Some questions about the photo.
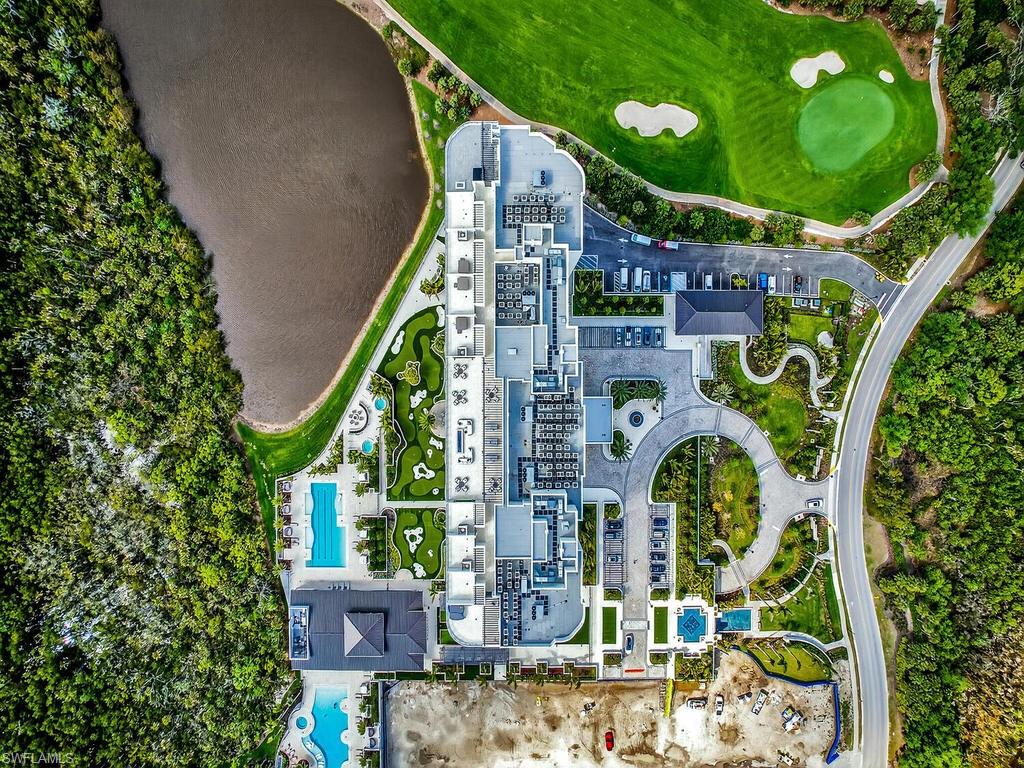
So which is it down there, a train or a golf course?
golf course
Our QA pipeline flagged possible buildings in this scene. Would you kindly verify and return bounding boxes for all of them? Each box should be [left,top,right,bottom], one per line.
[443,117,613,647]
[675,290,764,336]
[290,589,426,671]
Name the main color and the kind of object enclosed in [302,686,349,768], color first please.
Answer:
blue swimming pool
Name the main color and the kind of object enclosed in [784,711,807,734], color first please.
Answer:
white truck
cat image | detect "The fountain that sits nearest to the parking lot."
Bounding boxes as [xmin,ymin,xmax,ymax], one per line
[628,410,645,428]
